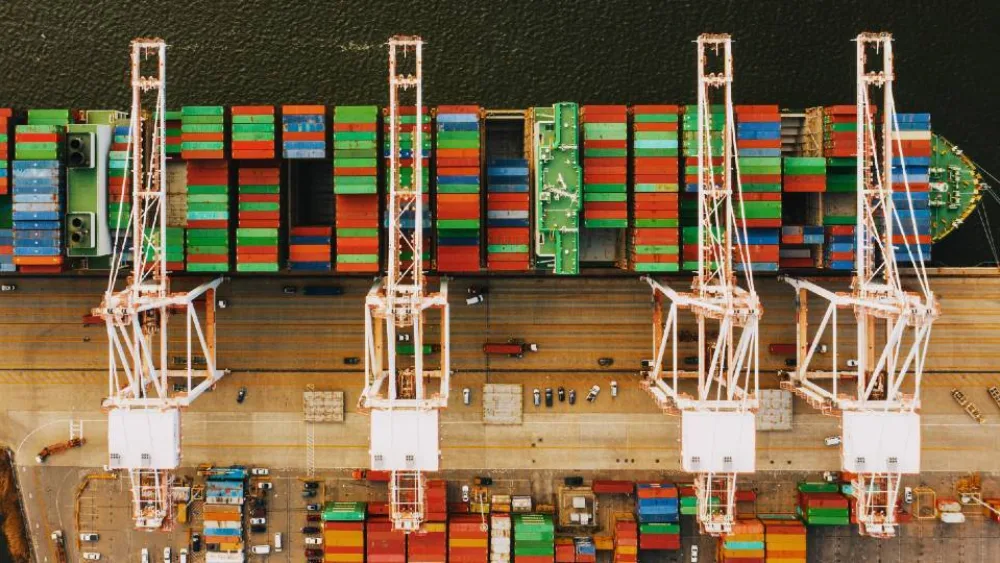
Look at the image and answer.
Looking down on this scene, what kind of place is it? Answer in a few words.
port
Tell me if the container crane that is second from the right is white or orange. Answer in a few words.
white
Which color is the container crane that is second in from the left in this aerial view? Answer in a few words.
white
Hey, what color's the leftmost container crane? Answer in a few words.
white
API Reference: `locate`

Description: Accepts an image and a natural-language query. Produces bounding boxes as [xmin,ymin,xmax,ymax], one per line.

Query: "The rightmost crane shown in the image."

[771,35,938,533]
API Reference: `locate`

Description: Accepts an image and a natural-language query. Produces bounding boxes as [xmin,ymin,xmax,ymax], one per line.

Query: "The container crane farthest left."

[99,35,235,533]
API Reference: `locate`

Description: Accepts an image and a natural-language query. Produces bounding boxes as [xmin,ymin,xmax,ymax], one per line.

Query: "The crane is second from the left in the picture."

[362,35,460,533]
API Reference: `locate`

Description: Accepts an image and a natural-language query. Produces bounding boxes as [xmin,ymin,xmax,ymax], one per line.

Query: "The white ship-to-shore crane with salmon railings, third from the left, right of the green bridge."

[634,35,762,533]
